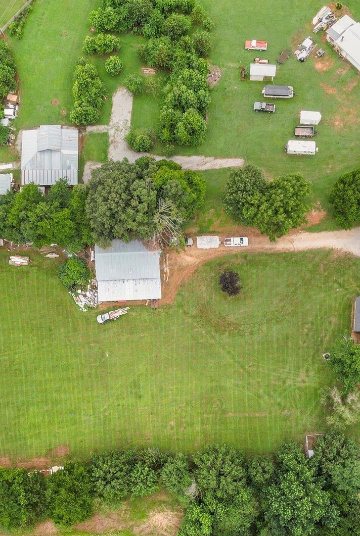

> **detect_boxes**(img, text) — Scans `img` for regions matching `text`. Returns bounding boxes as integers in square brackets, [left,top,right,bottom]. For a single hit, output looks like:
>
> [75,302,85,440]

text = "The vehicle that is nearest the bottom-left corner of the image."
[97,308,121,324]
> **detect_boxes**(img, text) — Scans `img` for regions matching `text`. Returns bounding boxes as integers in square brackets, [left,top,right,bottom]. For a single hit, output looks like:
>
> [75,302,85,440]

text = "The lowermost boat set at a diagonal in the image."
[299,41,318,61]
